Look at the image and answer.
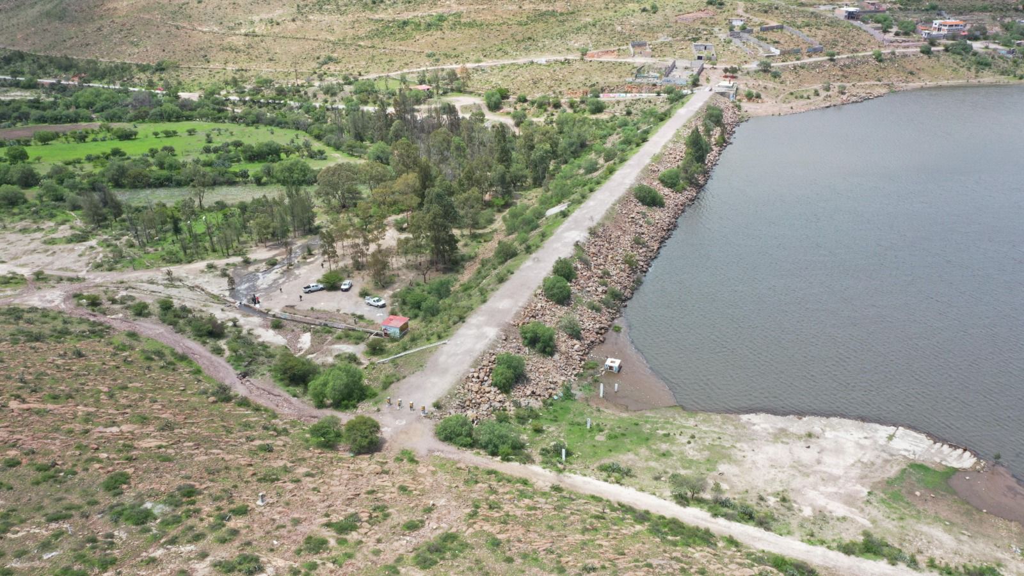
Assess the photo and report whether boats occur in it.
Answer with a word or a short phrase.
No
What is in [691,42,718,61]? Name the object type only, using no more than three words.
house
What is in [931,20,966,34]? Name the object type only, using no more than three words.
house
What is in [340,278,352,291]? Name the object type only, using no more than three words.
vehicle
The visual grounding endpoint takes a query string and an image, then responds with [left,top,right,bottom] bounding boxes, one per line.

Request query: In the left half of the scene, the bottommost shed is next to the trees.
[381,315,405,339]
